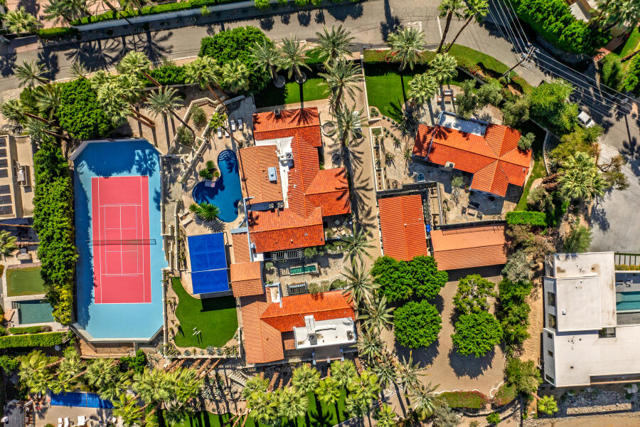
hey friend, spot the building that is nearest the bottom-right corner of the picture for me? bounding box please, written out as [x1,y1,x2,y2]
[542,250,640,387]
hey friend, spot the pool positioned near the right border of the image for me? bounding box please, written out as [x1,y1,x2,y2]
[616,288,640,312]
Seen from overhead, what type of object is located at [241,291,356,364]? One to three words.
house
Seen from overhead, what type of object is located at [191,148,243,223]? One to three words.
swimming pool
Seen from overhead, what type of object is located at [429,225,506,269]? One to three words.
shed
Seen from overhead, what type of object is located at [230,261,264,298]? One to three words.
building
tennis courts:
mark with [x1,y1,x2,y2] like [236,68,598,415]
[75,139,166,340]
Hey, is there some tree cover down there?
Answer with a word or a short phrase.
Yes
